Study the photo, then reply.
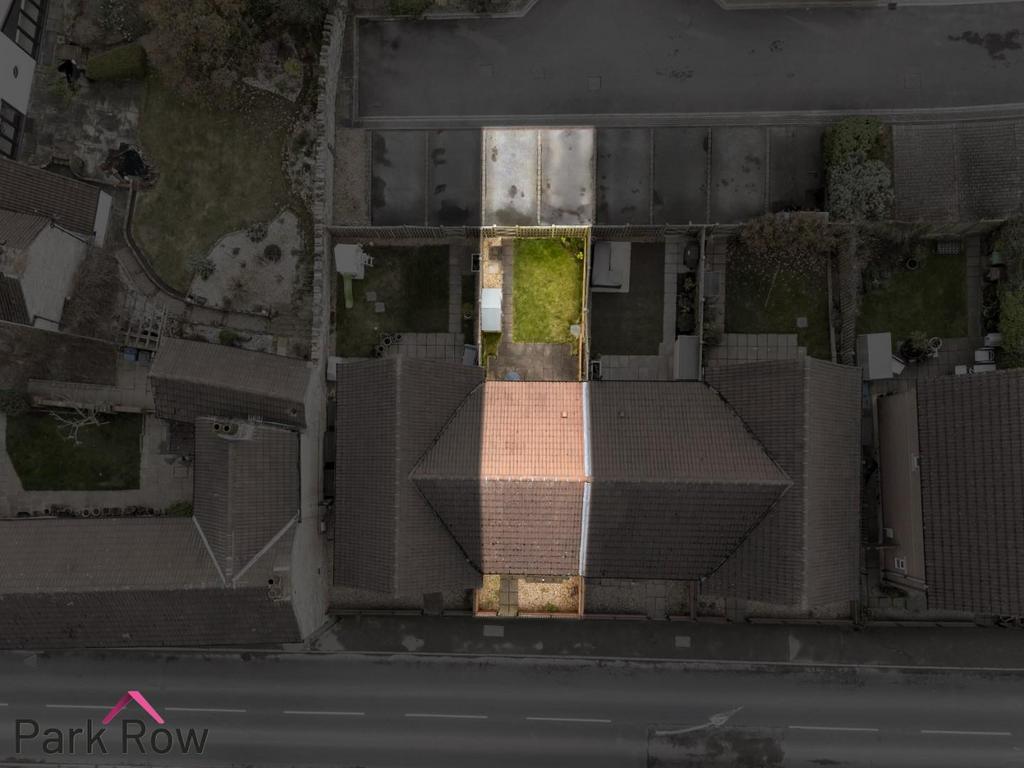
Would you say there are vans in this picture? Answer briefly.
No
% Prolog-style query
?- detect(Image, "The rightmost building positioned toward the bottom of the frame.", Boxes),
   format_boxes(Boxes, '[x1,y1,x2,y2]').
[879,368,1024,616]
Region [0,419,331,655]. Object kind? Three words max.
house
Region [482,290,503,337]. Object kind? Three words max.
shed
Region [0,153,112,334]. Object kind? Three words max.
shed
